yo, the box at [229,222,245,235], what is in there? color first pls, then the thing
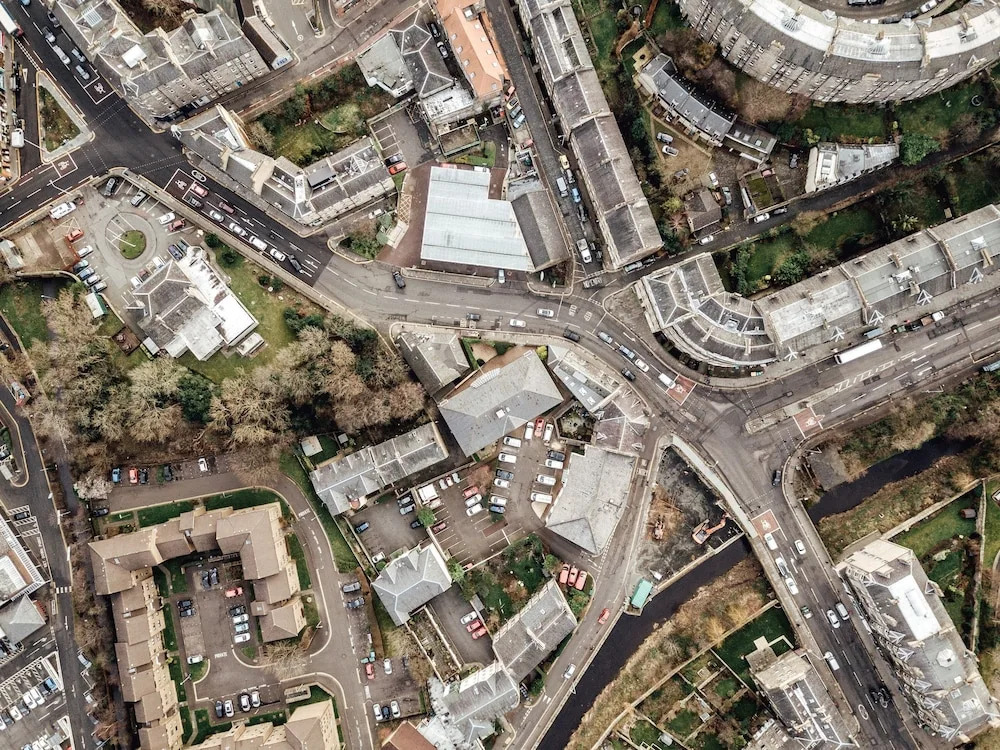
white vehicle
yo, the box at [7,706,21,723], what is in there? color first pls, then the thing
white car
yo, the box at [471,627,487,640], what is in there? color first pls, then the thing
pink vehicle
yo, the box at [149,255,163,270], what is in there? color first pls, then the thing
white vehicle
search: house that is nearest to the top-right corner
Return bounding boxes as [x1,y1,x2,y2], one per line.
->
[800,141,899,196]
